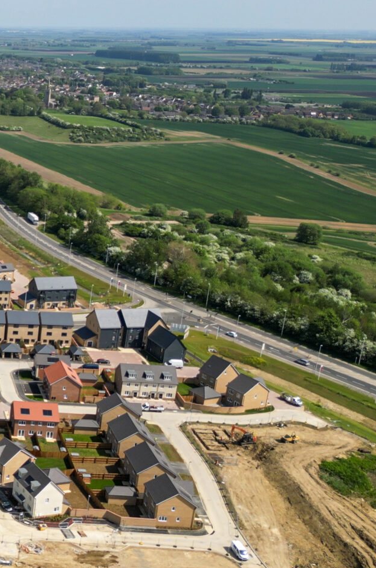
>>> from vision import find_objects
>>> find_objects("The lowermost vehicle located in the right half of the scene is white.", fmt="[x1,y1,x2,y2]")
[229,534,253,557]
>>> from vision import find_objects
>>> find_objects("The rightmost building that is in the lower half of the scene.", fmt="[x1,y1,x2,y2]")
[225,363,272,406]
